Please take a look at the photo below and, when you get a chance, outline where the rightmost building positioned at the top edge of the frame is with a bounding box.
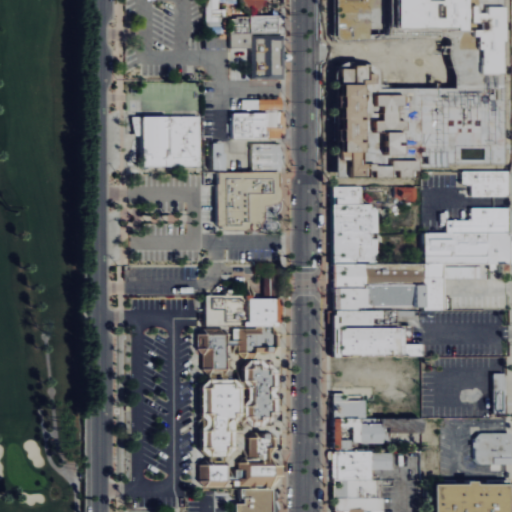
[470,7,507,76]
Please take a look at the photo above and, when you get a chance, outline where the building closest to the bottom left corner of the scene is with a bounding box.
[195,464,230,488]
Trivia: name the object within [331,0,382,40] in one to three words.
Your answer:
building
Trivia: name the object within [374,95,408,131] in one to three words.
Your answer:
building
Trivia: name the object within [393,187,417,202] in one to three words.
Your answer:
house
